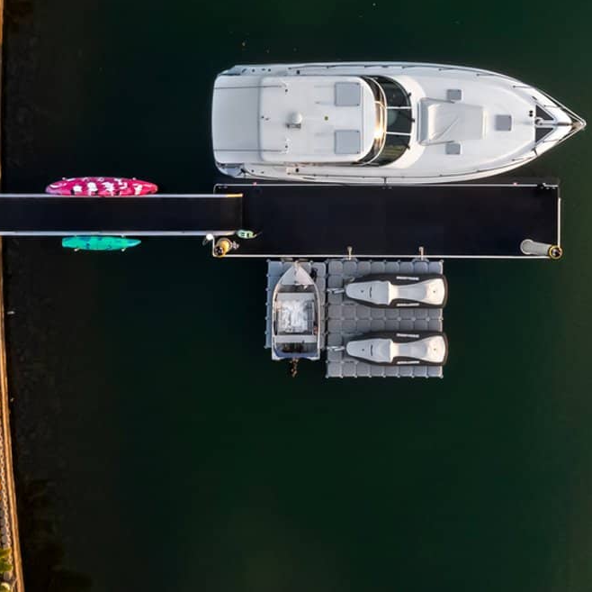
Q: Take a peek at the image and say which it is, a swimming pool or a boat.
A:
boat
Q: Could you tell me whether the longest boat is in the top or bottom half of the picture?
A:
top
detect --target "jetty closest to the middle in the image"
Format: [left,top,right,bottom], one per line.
[266,260,327,350]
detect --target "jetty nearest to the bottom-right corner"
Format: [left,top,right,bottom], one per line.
[325,260,444,379]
